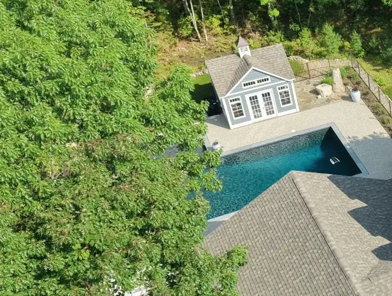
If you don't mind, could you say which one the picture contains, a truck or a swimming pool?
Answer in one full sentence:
There is a swimming pool in the scene.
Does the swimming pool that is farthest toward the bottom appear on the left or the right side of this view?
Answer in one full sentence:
The swimming pool that is farthest toward the bottom sits on the right side.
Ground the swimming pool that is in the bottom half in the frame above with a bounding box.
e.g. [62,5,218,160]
[150,123,368,232]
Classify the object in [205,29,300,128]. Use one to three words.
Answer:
building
